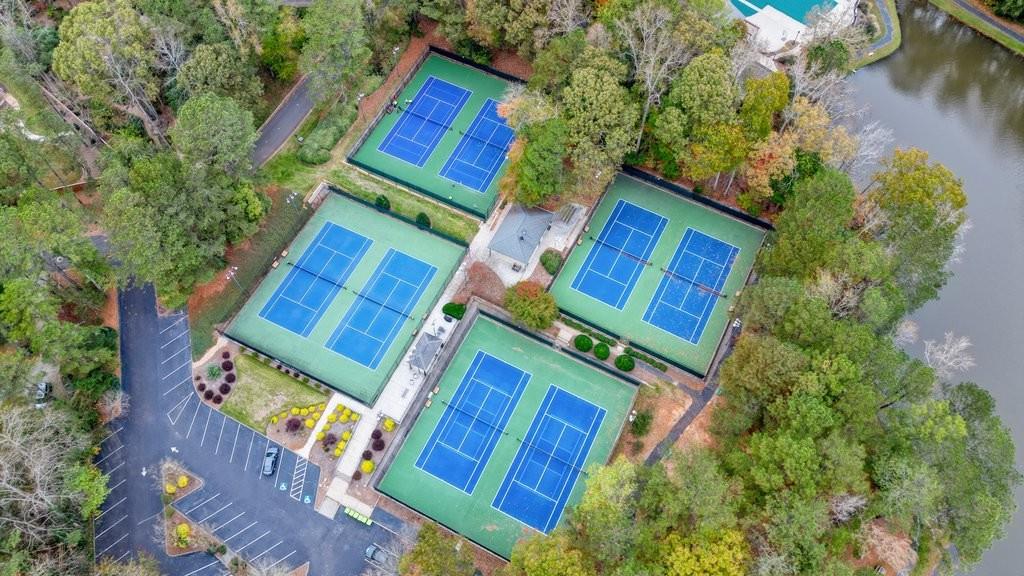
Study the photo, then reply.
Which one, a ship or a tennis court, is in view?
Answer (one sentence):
The image shows a tennis court.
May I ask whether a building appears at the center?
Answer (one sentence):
Yes, I can see a building at the center.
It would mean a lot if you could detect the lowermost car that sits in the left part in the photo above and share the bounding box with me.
[366,545,395,568]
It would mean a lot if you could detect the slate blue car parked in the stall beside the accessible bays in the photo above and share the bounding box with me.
[262,447,278,474]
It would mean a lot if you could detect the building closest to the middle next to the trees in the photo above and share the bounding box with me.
[488,202,553,265]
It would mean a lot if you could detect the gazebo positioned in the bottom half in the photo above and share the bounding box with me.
[410,332,442,374]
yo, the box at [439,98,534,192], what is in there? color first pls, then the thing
blue tennis court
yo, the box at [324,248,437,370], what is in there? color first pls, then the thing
blue tennis court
